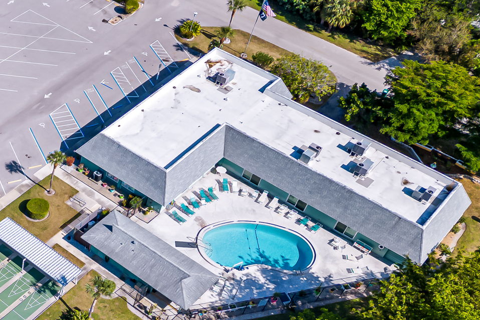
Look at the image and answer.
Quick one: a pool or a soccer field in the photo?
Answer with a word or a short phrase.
pool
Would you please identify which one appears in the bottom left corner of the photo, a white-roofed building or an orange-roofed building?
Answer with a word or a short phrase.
white-roofed building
